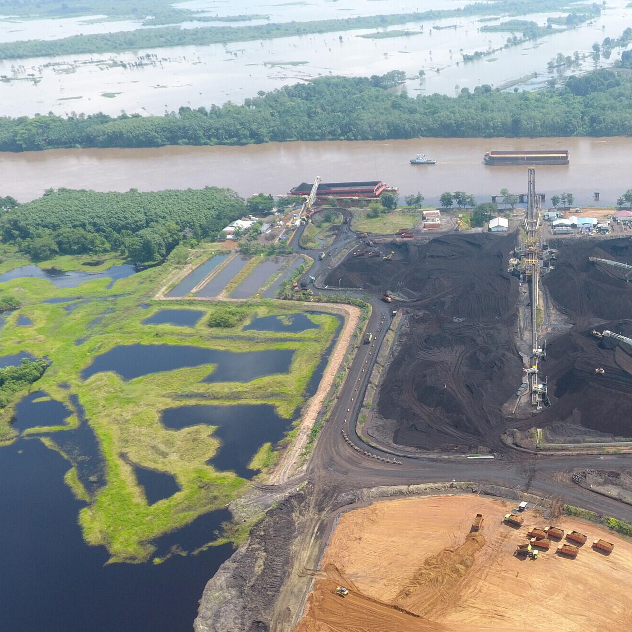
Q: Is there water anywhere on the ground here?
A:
Yes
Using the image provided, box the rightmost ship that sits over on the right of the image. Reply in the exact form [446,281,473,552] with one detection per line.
[483,151,569,164]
